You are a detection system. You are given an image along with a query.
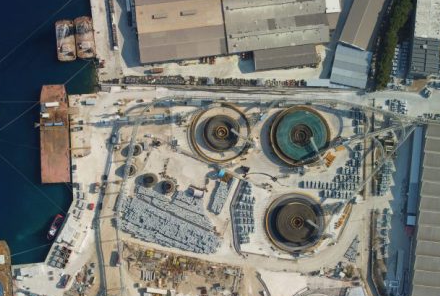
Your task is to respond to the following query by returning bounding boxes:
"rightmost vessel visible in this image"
[75,15,95,58]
